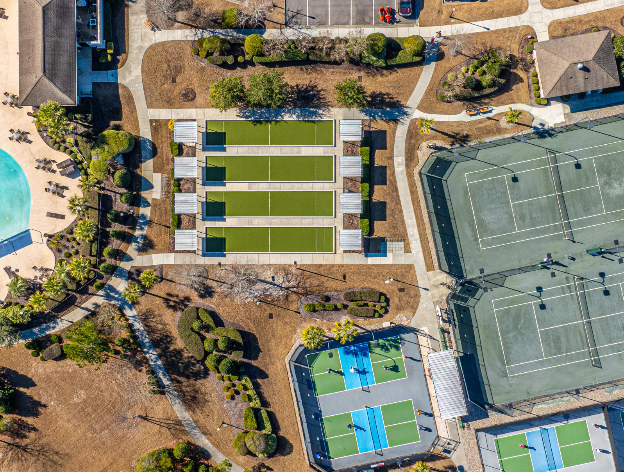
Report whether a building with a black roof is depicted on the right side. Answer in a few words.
No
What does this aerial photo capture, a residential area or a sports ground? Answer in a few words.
sports ground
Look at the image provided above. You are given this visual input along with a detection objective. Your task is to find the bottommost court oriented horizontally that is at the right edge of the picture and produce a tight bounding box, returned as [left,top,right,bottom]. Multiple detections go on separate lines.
[476,404,617,472]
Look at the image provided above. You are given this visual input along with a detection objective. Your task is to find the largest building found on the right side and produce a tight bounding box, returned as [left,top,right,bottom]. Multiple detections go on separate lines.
[535,30,619,99]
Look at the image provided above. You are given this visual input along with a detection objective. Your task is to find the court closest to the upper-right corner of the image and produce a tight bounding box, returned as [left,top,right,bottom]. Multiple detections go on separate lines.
[421,115,624,278]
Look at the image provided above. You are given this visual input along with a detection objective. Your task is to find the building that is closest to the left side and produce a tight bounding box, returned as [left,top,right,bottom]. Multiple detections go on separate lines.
[17,0,79,107]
